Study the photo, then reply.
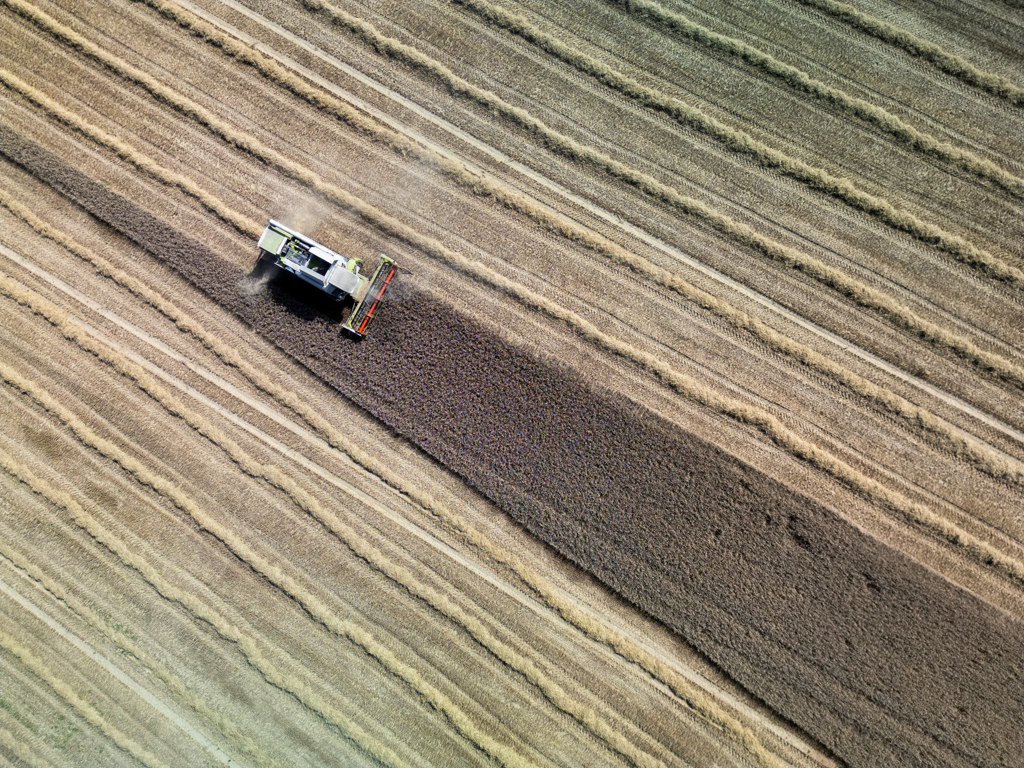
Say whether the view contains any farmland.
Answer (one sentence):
Yes, some farmland is visible.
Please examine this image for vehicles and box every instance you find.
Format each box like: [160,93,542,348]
[258,219,413,337]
